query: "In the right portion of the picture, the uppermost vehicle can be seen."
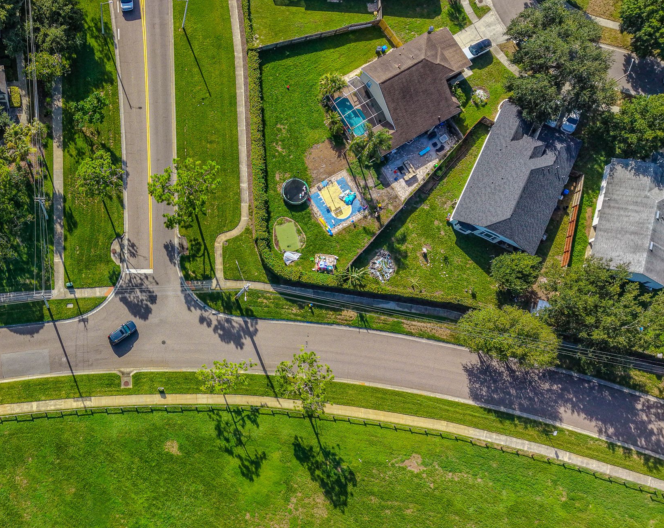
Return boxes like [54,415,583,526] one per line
[463,38,495,61]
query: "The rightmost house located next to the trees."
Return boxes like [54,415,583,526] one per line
[580,152,664,279]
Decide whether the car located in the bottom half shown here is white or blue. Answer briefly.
blue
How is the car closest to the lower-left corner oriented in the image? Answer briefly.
at an angle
